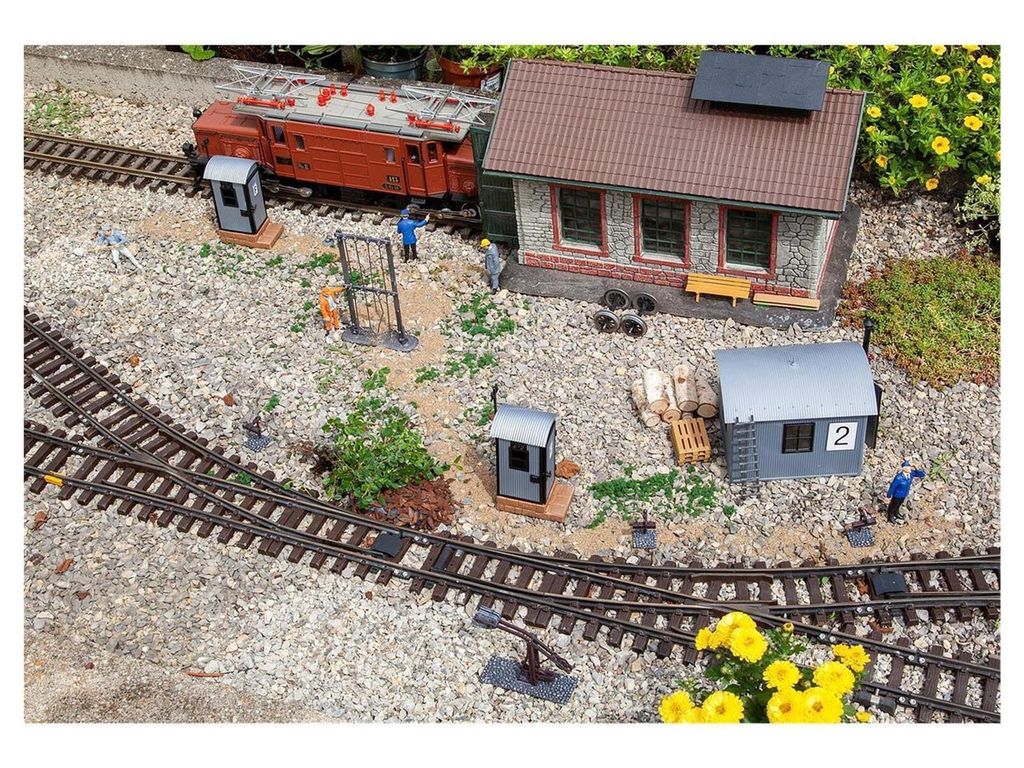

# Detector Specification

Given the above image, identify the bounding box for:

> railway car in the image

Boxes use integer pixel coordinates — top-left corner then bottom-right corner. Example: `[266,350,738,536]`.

[191,65,499,223]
